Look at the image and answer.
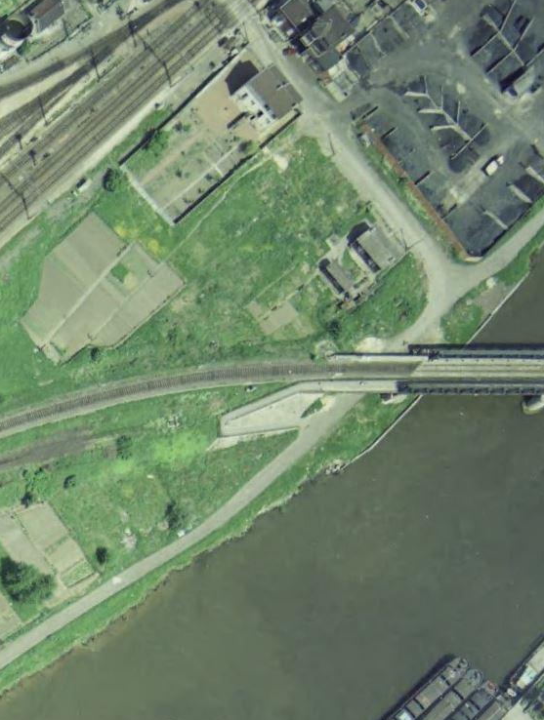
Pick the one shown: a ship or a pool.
ship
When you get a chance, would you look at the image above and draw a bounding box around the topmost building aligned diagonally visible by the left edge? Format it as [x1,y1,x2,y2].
[23,0,68,37]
